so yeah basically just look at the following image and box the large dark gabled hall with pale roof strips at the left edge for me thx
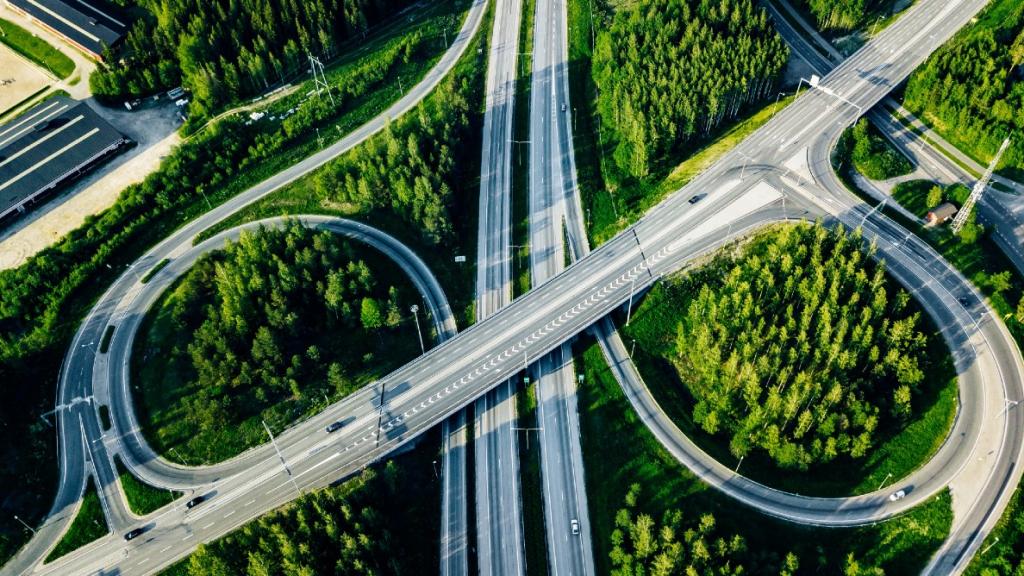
[0,101,127,227]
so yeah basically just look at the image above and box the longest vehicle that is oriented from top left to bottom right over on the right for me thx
[956,293,971,307]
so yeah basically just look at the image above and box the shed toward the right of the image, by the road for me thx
[923,200,962,229]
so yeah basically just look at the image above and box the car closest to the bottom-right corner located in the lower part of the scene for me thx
[889,487,908,500]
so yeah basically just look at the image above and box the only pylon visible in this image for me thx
[308,52,334,104]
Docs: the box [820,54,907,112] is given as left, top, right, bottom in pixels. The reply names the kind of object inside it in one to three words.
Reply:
bridge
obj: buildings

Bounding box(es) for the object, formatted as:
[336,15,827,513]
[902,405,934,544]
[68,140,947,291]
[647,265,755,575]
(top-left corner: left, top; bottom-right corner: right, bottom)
[0,0,152,65]
[0,101,127,227]
[923,200,962,229]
